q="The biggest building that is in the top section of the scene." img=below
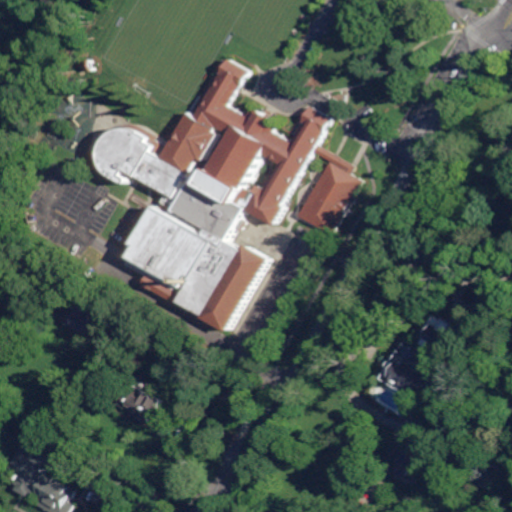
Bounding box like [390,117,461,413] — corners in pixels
[92,60,339,330]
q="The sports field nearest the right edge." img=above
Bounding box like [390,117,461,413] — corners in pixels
[224,0,308,60]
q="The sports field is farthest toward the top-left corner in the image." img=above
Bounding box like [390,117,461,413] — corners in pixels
[104,0,246,102]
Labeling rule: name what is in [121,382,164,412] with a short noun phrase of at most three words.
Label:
house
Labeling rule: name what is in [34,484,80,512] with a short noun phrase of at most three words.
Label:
house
